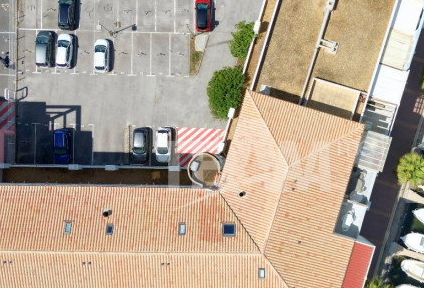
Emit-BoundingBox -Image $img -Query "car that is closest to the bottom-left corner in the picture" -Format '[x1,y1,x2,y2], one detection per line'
[53,130,74,164]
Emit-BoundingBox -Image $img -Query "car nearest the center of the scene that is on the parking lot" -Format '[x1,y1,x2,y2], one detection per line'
[154,127,172,164]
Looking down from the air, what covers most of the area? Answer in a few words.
buildings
